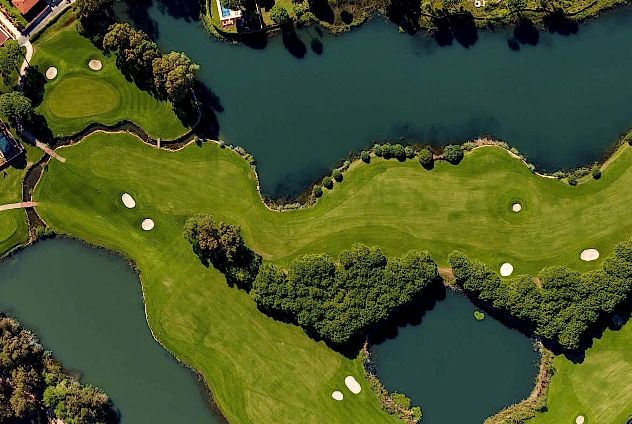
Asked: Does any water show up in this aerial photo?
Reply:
Yes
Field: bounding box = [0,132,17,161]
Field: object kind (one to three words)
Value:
swimming pool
